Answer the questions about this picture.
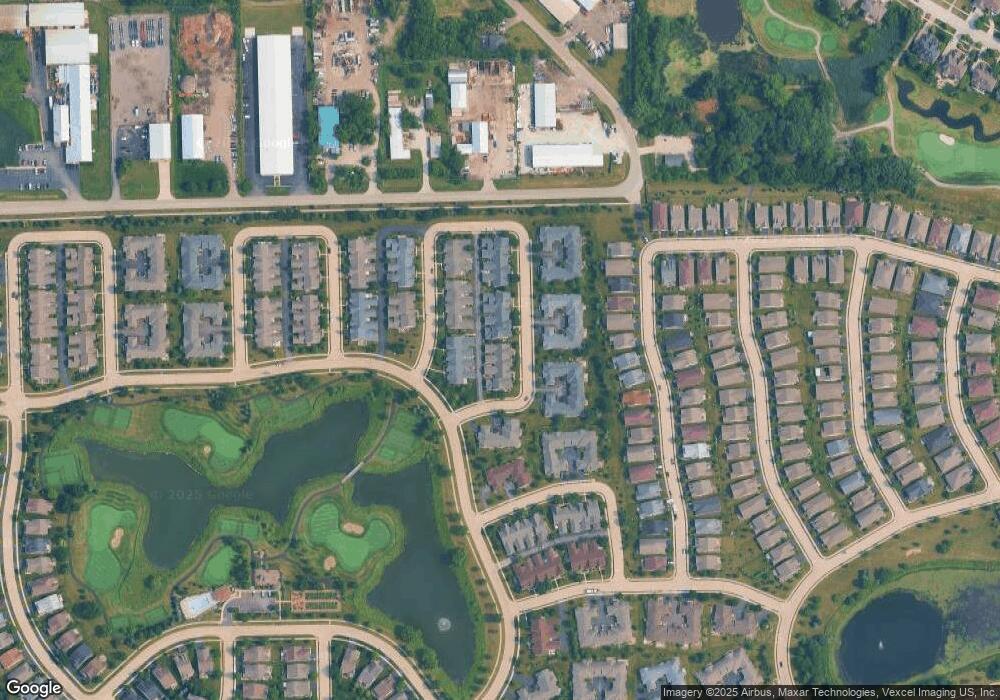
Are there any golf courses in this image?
Yes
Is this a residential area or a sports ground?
residential area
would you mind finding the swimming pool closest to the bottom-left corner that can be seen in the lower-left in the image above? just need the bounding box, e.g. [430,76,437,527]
[182,593,215,619]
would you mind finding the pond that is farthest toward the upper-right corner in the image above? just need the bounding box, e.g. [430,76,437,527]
[830,3,923,126]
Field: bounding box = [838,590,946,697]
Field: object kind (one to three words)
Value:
pond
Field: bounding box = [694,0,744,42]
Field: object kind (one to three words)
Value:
pond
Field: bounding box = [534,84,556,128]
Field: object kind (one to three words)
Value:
building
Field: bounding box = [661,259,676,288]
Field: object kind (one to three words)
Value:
house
